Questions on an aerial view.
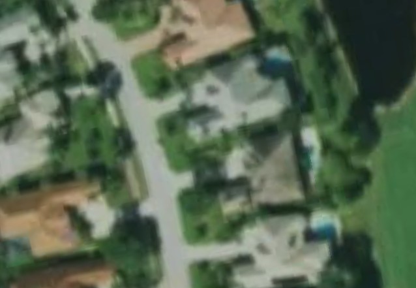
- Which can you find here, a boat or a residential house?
residential house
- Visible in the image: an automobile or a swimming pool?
swimming pool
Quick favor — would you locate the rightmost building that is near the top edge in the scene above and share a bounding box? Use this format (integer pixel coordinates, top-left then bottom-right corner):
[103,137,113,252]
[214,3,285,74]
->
[163,0,255,73]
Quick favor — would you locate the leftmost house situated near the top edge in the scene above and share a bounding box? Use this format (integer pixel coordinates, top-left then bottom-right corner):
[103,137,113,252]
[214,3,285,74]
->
[0,10,39,64]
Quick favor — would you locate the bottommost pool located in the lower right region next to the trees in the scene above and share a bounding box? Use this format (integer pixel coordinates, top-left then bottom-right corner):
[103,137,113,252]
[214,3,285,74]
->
[309,209,344,241]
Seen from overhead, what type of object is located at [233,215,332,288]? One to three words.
house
